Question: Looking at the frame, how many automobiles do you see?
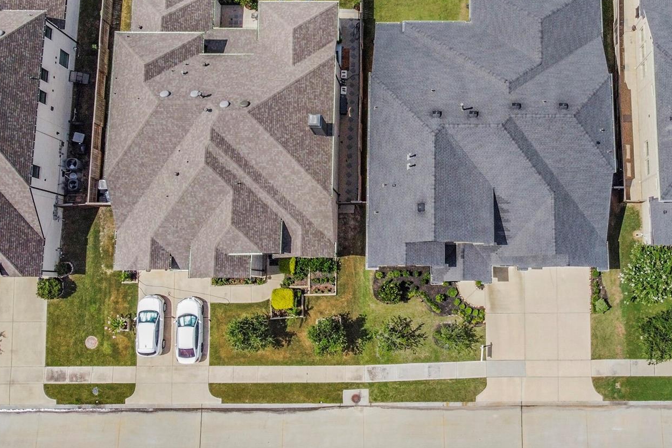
2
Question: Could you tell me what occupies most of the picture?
buildings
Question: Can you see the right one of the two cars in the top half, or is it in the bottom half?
bottom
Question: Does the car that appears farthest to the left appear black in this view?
No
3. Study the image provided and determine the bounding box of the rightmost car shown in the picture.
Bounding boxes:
[172,297,205,365]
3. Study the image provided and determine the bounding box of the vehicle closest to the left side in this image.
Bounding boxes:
[135,295,168,358]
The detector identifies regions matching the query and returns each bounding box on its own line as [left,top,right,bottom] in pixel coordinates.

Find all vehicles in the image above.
[172,297,205,365]
[135,295,168,358]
